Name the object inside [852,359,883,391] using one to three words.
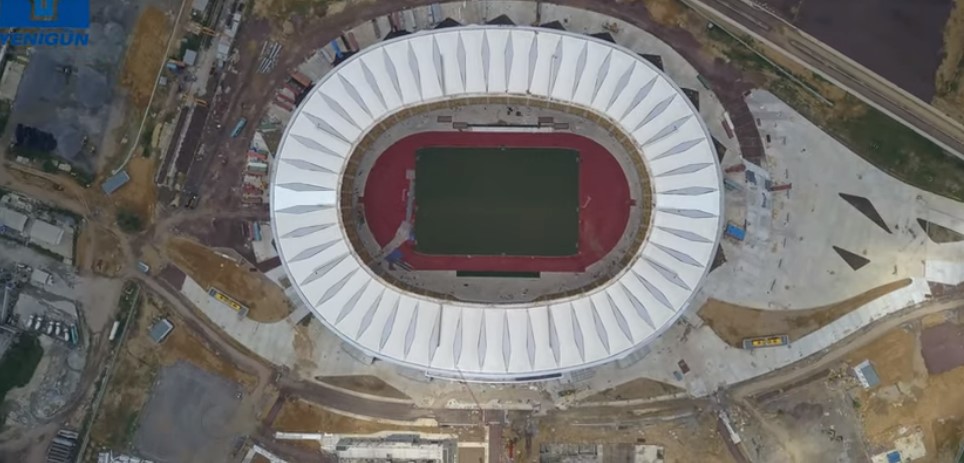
shed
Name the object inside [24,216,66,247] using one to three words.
house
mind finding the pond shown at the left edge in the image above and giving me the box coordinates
[0,335,43,420]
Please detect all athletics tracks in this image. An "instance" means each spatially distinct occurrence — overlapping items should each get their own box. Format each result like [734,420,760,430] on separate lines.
[360,131,635,272]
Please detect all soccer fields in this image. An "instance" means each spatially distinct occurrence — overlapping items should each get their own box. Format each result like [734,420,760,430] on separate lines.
[414,148,580,256]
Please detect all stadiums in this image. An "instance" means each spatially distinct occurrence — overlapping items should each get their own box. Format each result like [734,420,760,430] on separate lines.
[271,26,723,387]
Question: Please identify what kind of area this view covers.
sports ground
